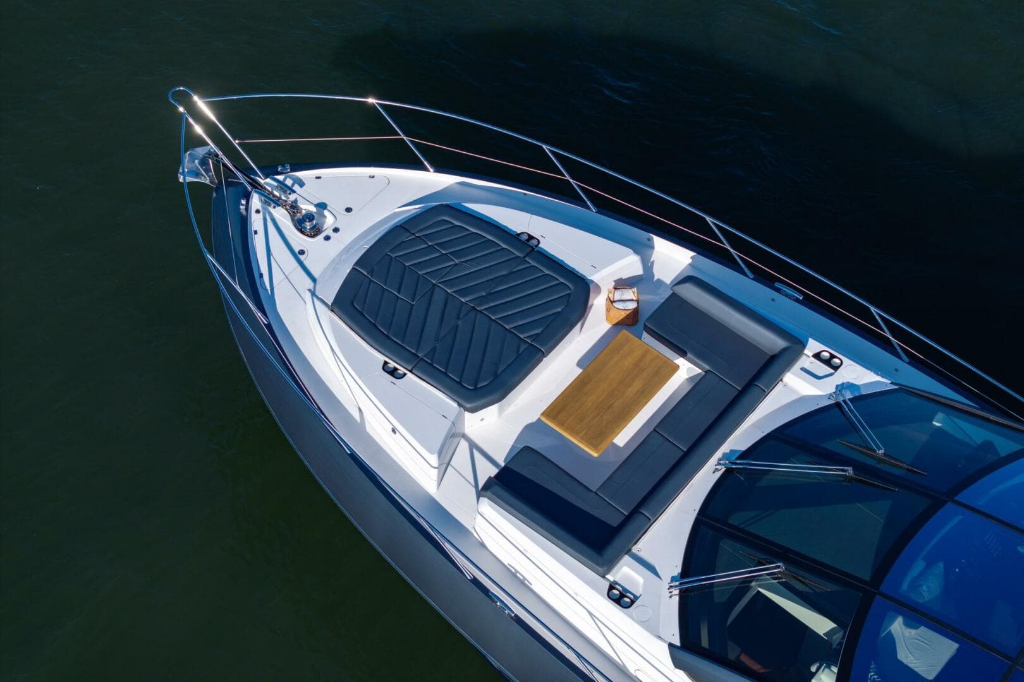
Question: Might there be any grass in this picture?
No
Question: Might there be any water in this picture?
Yes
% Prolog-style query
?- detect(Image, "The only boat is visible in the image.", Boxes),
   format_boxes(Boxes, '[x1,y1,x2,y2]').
[168,87,1024,682]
